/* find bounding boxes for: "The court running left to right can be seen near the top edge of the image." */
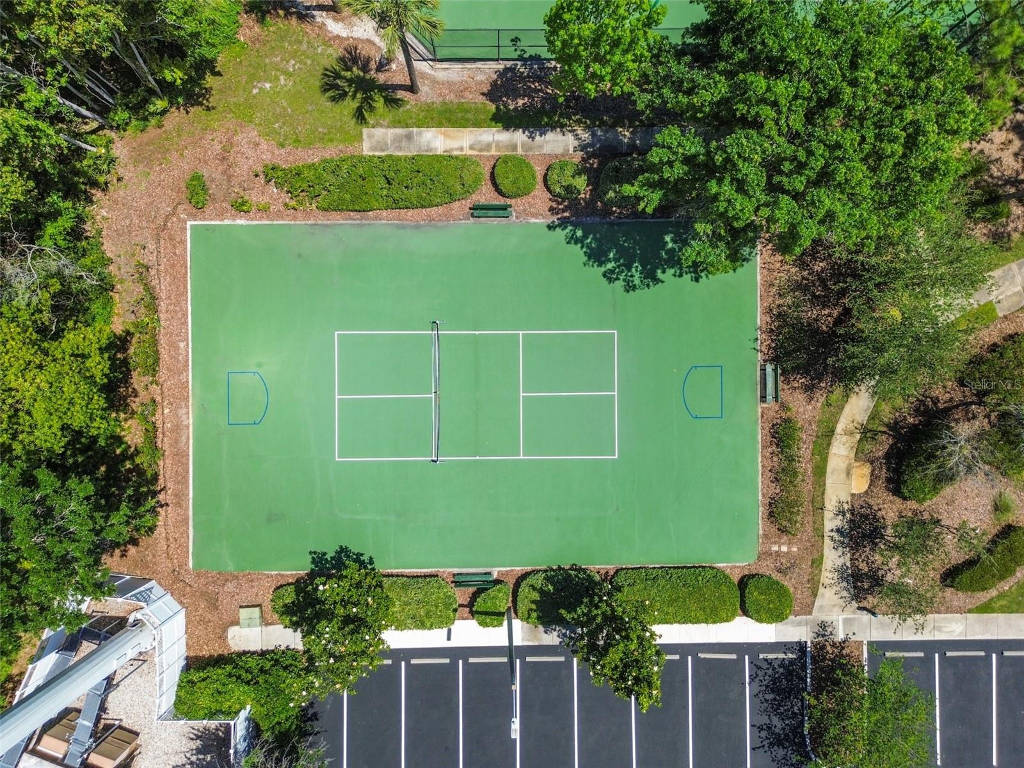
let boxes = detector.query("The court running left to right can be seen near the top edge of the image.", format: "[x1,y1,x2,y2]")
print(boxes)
[386,0,1019,68]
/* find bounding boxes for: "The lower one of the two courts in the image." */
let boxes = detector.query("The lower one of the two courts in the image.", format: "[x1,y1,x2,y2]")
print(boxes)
[187,220,760,572]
